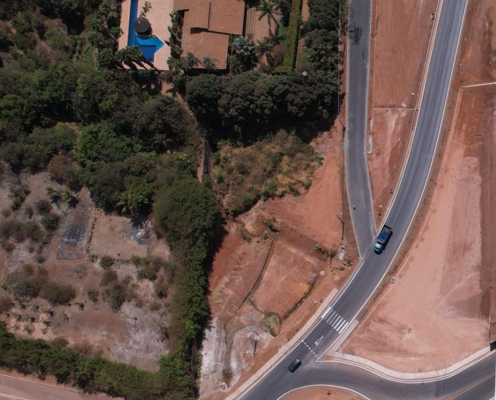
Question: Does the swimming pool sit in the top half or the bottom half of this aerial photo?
top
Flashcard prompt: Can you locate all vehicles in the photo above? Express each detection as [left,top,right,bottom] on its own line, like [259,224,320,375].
[374,224,392,253]
[287,358,301,372]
